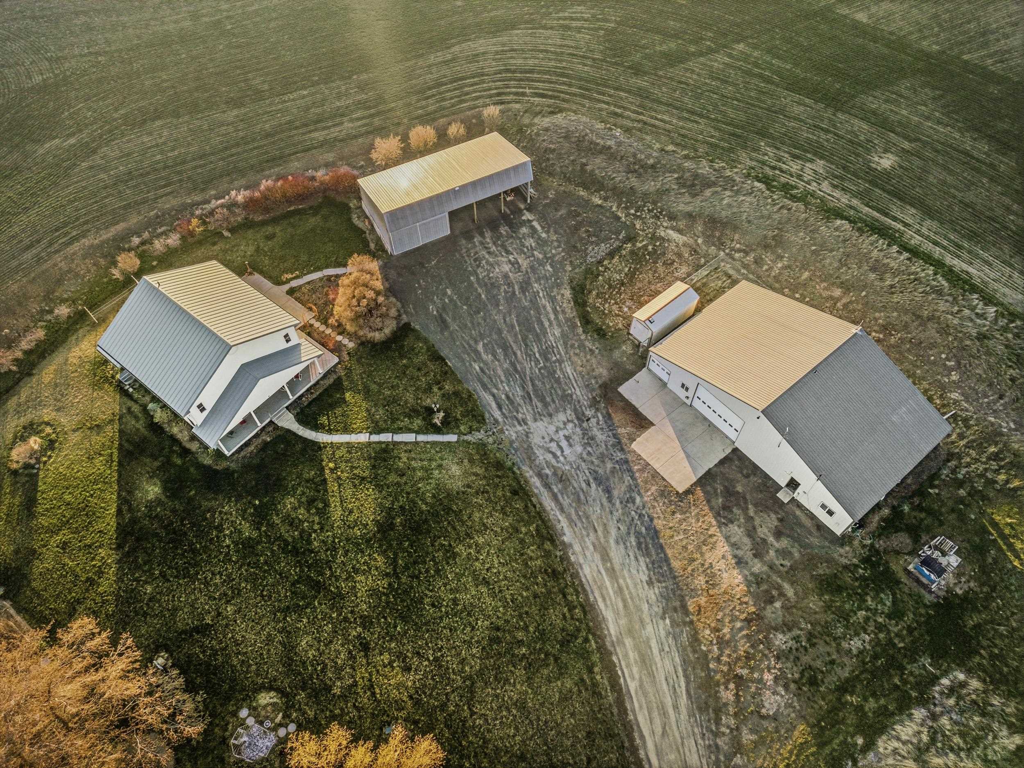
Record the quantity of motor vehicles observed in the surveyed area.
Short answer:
none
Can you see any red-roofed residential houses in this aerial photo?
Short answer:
No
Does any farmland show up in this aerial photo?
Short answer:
Yes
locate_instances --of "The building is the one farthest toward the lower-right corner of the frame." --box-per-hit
[646,280,956,535]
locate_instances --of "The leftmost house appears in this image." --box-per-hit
[97,260,341,459]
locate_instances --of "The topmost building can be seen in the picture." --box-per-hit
[358,131,531,255]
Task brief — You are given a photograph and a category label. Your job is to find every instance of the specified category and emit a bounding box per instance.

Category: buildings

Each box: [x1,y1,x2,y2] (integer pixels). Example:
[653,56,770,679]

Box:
[358,131,531,255]
[97,260,341,459]
[646,280,956,535]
